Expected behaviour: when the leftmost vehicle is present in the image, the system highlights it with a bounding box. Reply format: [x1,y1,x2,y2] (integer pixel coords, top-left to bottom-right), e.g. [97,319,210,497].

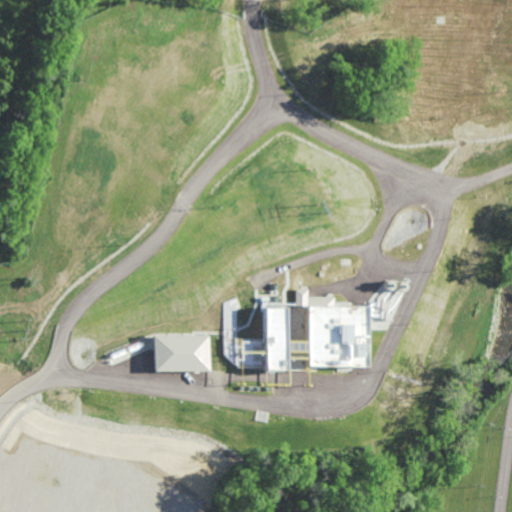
[102,352,132,366]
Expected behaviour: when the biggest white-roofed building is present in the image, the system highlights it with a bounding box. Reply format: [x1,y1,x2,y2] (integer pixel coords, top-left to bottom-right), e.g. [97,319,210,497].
[258,288,372,373]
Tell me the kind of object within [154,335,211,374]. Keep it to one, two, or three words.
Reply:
building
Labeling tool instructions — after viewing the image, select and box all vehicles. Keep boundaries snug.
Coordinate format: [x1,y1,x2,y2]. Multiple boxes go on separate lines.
[184,374,194,385]
[102,352,132,366]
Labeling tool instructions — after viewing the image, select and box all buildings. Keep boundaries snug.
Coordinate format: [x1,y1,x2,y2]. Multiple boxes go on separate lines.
[154,335,211,374]
[258,288,372,373]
